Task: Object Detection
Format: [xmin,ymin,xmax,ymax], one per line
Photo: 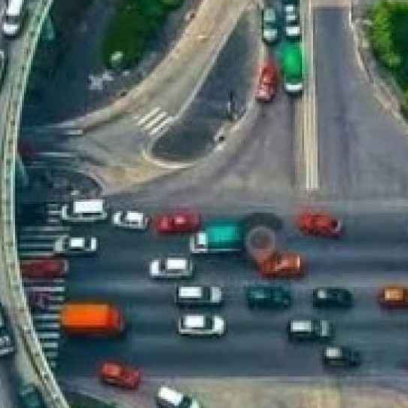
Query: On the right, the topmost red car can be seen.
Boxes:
[257,66,276,100]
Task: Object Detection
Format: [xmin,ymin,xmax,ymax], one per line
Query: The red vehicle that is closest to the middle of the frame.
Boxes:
[153,213,200,235]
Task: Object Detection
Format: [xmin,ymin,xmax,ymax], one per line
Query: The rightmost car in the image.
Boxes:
[378,286,408,309]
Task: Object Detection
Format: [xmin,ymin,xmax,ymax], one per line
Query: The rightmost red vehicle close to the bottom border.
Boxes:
[97,362,142,389]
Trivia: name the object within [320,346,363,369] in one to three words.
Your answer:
car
